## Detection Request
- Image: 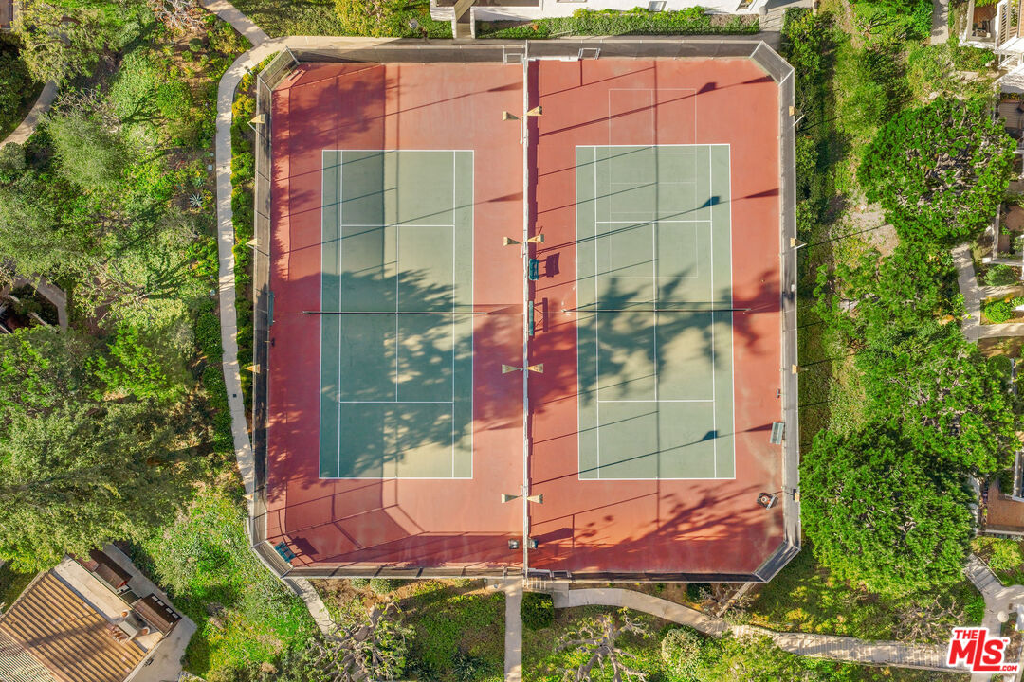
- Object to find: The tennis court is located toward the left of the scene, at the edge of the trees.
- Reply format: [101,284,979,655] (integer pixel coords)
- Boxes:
[267,63,526,568]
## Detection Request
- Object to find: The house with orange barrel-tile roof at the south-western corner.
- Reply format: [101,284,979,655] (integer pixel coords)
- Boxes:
[0,541,198,682]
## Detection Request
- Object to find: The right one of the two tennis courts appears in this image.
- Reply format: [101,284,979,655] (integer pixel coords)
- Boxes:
[530,57,785,574]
